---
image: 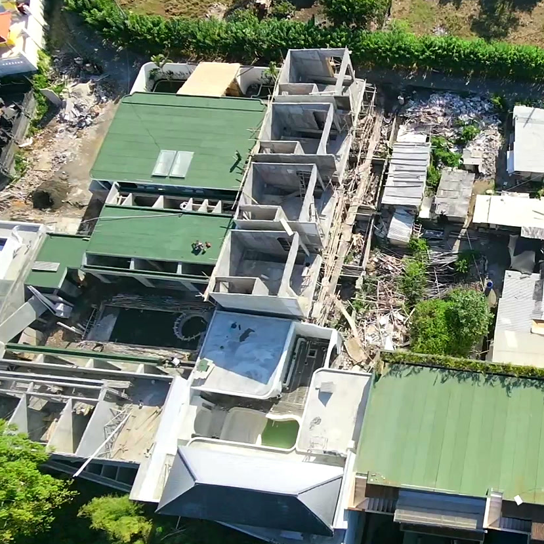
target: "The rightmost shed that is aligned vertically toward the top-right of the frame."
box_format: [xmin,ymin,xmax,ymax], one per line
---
[512,107,544,183]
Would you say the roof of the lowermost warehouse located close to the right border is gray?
No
